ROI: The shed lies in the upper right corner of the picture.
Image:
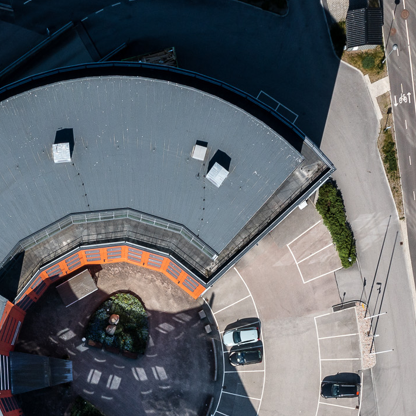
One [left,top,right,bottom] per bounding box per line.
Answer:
[343,7,382,55]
